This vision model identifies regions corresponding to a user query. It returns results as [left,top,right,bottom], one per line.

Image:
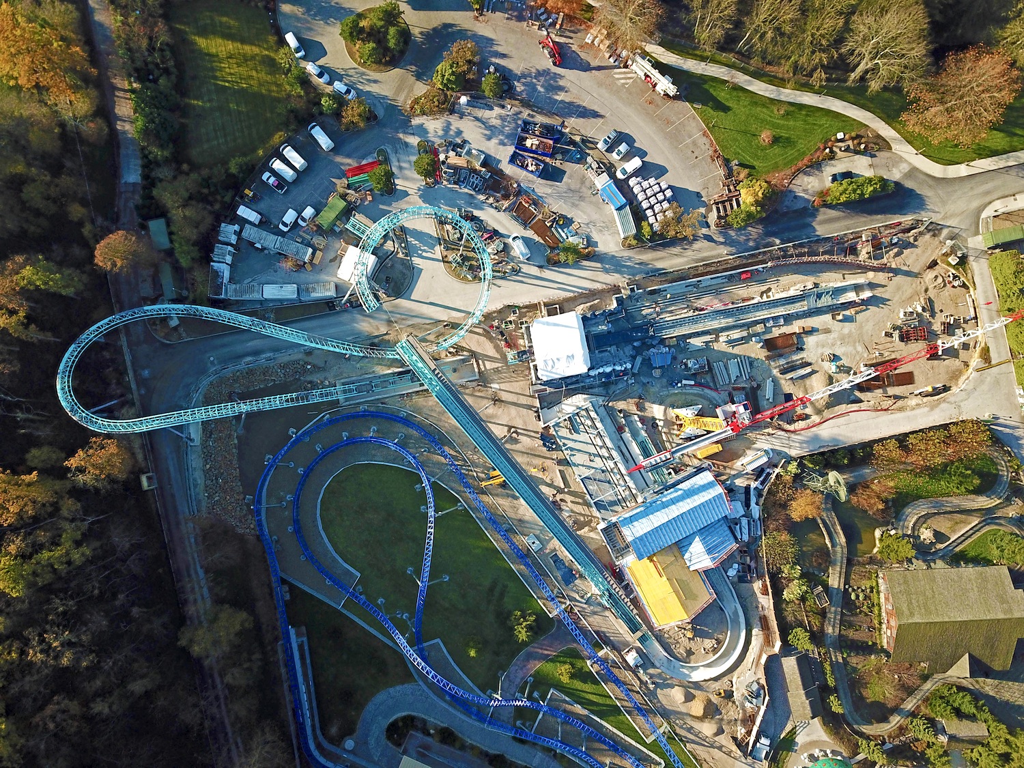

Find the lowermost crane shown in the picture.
[629,309,1024,475]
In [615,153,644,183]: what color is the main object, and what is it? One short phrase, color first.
white van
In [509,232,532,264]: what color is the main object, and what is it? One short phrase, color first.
white vehicle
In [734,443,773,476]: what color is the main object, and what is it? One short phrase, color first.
white vehicle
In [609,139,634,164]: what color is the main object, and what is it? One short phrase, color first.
white car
